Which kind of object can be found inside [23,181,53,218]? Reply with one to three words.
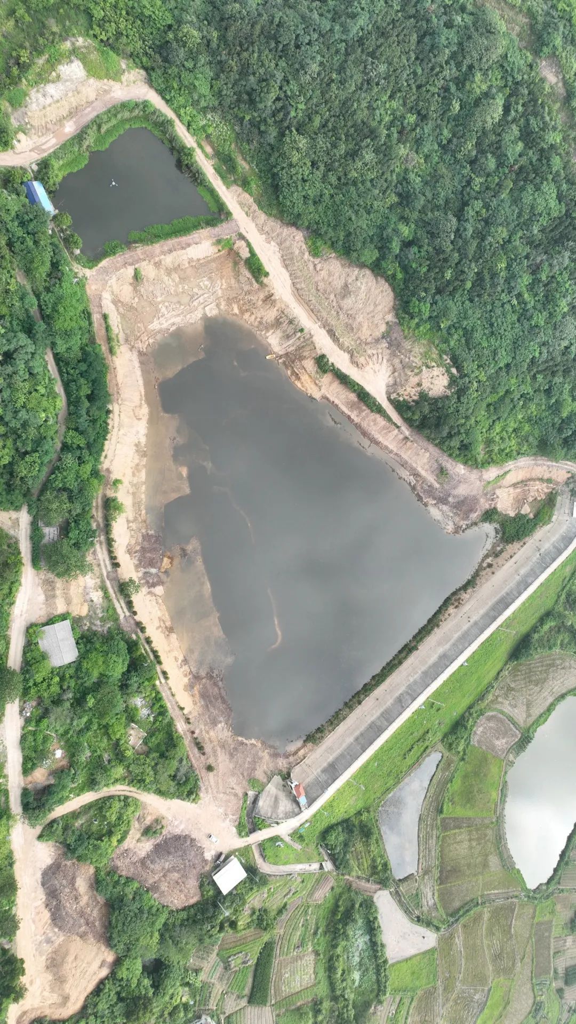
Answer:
house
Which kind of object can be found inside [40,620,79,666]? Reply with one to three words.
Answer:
shed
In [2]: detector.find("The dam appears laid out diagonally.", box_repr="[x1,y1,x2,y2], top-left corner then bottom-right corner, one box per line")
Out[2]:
[293,472,576,848]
